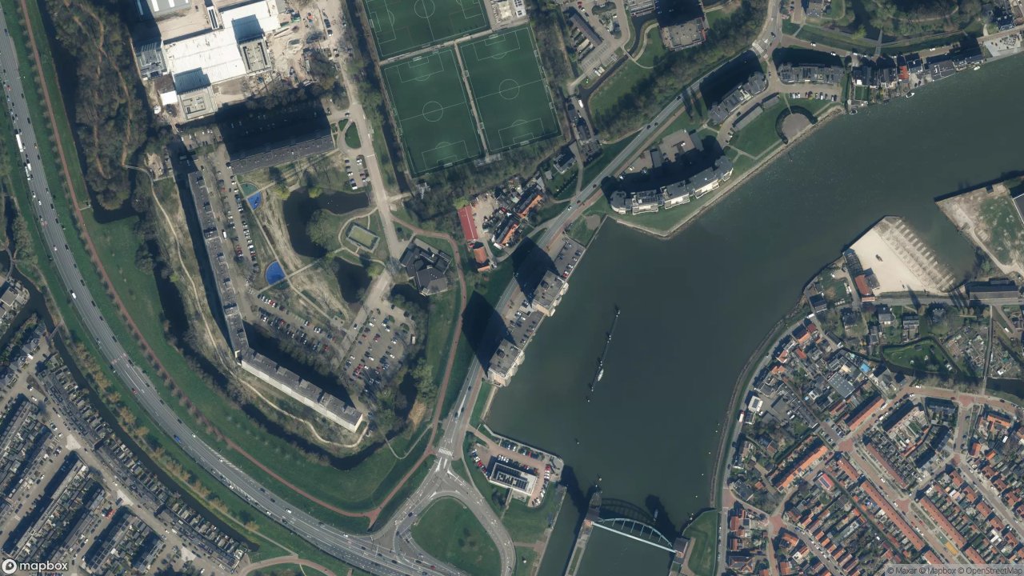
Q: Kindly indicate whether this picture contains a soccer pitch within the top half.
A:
Yes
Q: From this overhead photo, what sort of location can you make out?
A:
residential area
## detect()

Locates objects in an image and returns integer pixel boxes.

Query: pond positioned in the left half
[283,189,371,304]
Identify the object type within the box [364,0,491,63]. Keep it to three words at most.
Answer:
soccer field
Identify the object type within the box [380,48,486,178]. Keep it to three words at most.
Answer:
soccer field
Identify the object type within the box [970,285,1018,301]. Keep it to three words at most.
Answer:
house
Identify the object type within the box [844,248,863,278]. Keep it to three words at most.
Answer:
building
